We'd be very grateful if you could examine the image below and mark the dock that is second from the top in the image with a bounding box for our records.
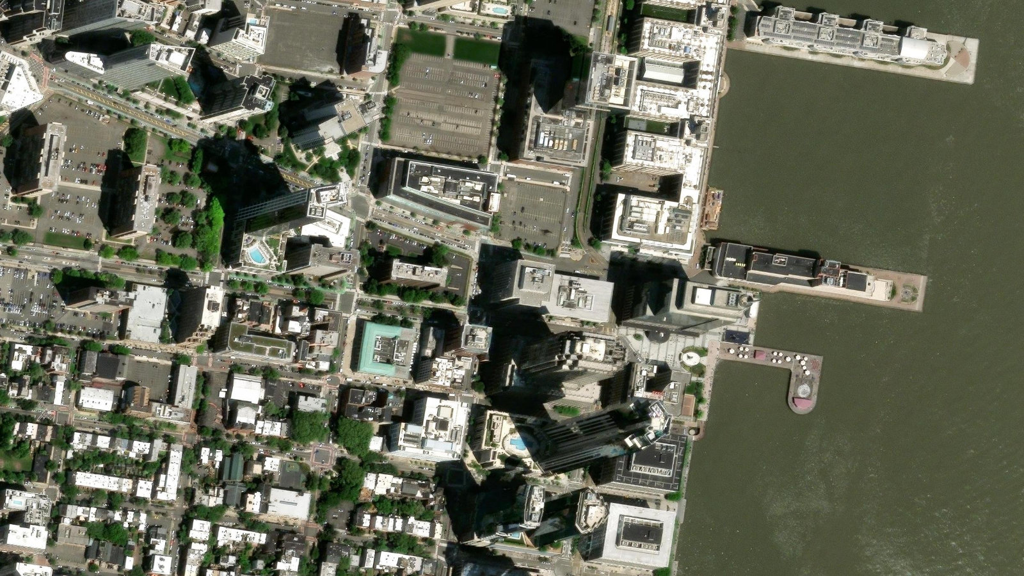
[745,265,919,312]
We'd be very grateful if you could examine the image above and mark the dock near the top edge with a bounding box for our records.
[730,7,978,84]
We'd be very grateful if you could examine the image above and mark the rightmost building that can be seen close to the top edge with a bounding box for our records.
[748,6,946,66]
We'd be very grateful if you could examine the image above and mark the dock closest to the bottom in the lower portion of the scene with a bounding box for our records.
[717,343,822,414]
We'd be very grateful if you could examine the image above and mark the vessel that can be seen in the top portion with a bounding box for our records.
[701,187,723,230]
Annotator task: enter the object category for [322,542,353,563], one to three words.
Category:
house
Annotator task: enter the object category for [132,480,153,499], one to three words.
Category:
house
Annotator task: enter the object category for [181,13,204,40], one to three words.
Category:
building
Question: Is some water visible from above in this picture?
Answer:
Yes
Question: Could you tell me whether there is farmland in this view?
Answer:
No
